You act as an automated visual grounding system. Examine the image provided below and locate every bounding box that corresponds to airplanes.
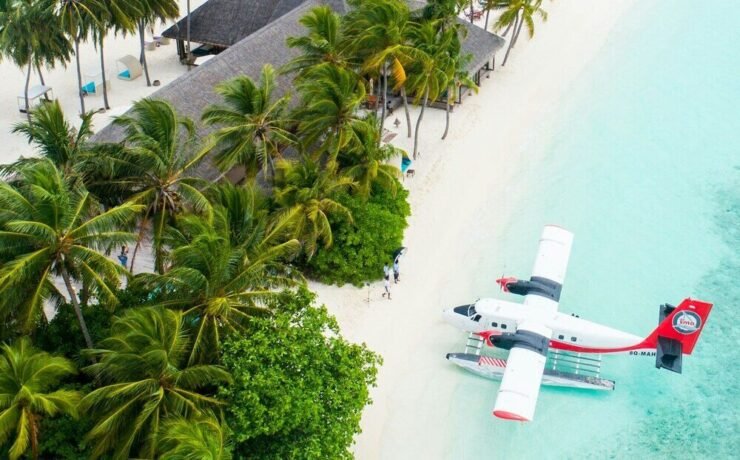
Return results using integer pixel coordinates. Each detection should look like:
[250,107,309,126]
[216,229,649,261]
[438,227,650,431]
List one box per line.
[442,227,712,420]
